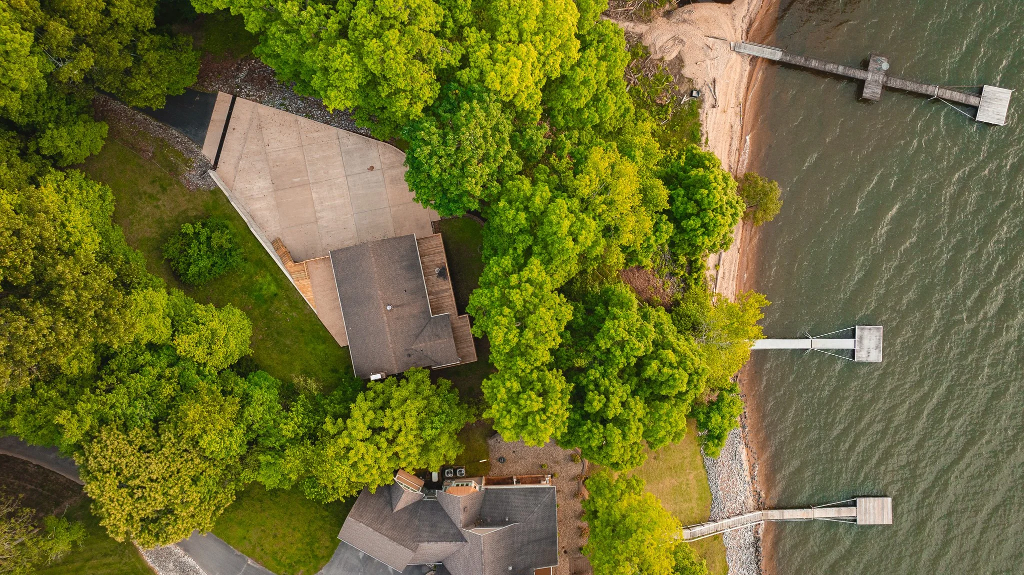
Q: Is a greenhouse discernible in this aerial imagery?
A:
No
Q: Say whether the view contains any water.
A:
Yes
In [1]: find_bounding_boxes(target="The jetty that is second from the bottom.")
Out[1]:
[737,325,884,362]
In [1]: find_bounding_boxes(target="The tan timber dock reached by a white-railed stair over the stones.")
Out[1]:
[675,497,893,542]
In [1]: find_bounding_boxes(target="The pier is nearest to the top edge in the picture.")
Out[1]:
[730,42,1020,127]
